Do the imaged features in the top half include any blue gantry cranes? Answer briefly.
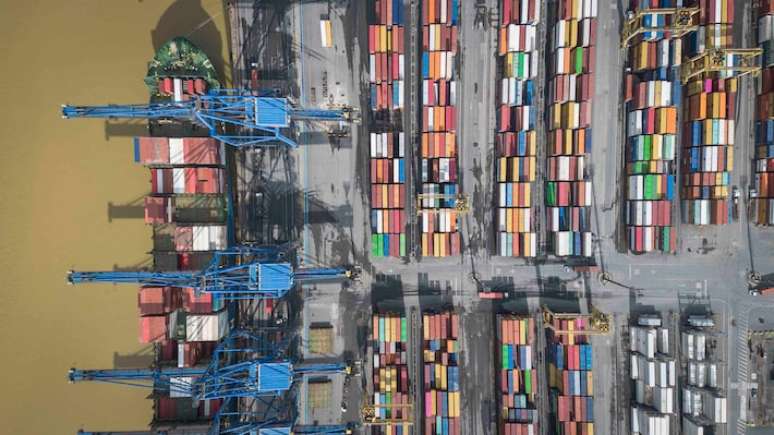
Yes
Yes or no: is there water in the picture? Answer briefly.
Yes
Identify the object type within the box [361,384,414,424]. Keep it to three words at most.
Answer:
container crane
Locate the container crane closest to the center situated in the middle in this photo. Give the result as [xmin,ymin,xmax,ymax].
[415,190,471,214]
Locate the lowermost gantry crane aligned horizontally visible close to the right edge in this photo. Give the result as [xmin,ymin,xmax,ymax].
[681,47,763,82]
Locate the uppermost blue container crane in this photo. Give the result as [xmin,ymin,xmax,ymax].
[57,86,354,149]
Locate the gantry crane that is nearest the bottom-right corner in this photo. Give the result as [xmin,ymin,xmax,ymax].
[541,301,610,335]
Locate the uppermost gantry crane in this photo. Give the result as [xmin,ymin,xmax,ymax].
[621,9,700,47]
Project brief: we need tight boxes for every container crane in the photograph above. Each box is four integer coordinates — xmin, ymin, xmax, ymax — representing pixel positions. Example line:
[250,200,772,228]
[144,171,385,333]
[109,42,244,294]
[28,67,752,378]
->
[361,384,414,424]
[62,239,356,300]
[621,9,700,47]
[66,324,357,397]
[681,47,763,82]
[415,190,471,214]
[57,86,354,149]
[541,301,610,335]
